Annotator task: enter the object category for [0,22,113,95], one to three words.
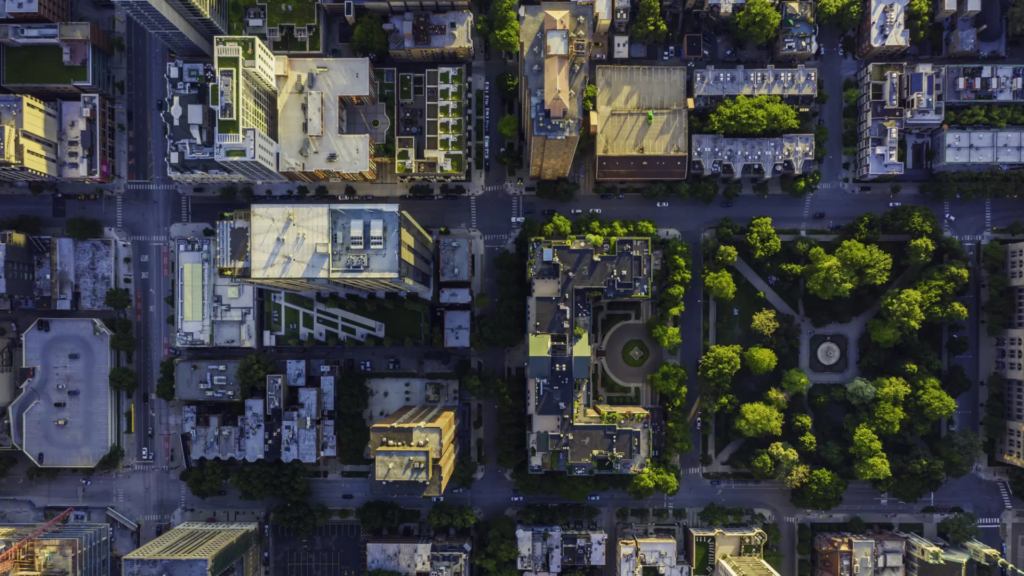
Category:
building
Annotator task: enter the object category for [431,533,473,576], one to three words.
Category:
house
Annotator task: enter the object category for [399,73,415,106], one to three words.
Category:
house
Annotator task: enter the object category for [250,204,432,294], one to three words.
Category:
building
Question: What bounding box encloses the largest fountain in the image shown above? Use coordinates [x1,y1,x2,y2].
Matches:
[818,341,842,365]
